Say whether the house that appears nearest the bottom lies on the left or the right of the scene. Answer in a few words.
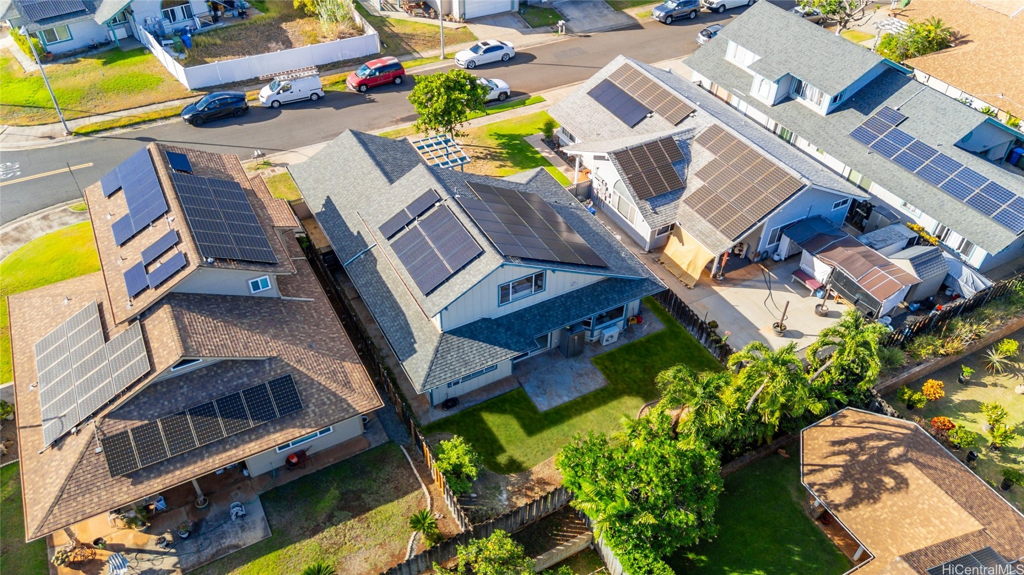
right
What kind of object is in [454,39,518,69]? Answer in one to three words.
car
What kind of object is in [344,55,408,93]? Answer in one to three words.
car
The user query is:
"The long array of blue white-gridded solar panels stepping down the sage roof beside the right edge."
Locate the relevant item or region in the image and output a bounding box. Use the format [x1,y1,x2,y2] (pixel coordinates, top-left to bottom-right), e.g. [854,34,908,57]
[849,107,1024,227]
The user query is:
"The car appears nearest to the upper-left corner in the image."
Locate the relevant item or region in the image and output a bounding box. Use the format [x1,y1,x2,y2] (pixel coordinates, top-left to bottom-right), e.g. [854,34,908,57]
[179,90,251,128]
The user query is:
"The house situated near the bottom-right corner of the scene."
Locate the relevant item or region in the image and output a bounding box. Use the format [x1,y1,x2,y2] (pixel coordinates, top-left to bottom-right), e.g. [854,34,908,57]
[797,404,1024,575]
